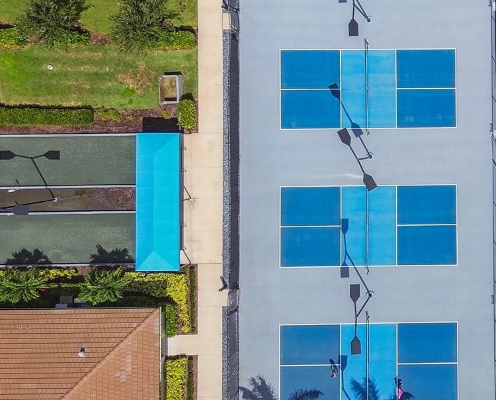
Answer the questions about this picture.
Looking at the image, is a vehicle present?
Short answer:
No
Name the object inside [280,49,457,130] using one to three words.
sports court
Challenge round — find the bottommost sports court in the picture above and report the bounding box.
[279,321,459,400]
